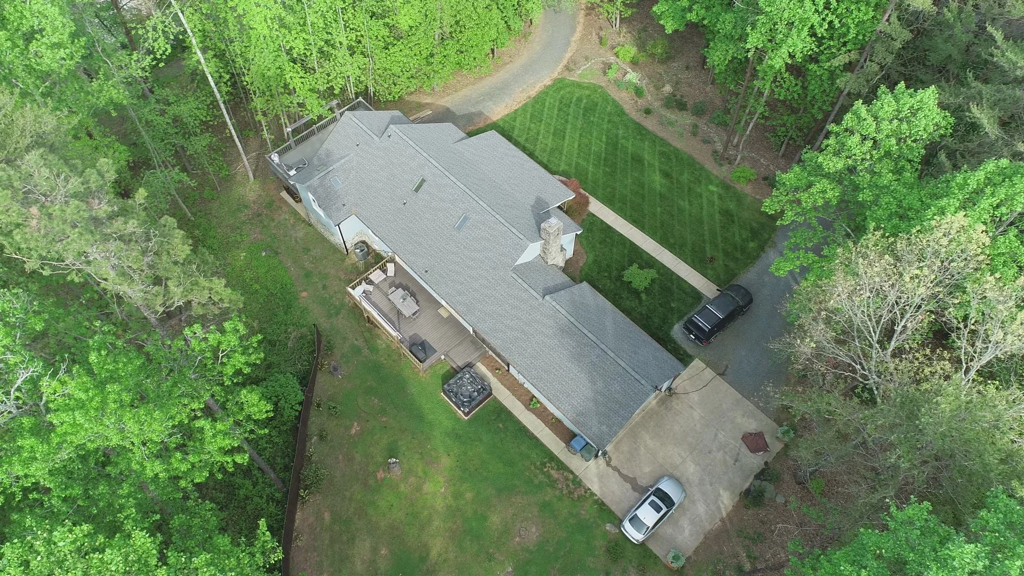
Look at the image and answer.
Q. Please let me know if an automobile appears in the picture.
Yes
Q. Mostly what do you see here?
trees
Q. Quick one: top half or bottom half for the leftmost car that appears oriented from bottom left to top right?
bottom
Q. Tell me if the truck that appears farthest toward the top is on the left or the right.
right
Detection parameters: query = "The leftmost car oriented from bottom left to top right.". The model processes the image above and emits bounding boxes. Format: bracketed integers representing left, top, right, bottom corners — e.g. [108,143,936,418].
[622,471,688,544]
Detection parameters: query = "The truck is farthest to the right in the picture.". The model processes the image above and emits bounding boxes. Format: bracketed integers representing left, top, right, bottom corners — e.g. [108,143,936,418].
[680,280,751,350]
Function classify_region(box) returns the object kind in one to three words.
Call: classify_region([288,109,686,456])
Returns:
house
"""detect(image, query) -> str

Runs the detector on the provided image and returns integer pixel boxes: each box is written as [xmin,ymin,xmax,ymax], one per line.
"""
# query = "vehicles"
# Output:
[622,471,688,544]
[680,280,751,350]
